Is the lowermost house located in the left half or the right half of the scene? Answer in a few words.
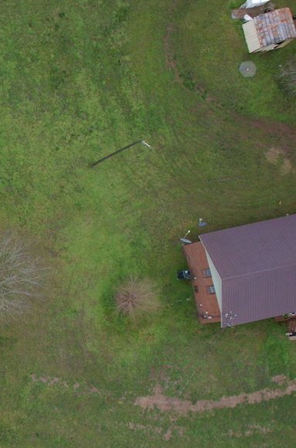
right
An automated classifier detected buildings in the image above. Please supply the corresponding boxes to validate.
[198,217,296,327]
[243,7,296,53]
